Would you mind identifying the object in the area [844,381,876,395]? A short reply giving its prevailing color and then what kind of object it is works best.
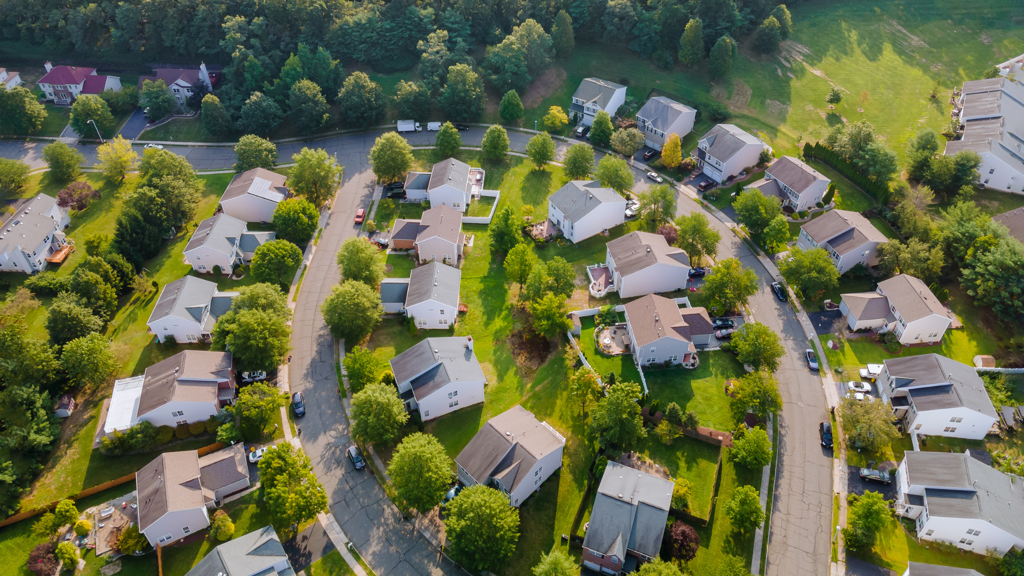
white car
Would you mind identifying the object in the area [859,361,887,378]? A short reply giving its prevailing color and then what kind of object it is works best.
white car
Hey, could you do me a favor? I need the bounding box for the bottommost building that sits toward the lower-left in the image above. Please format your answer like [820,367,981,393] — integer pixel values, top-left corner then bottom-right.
[189,526,308,576]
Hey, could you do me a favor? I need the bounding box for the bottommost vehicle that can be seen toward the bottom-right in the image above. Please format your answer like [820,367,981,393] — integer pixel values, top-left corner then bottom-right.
[858,466,893,486]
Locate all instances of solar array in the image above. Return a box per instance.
[246,177,281,201]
